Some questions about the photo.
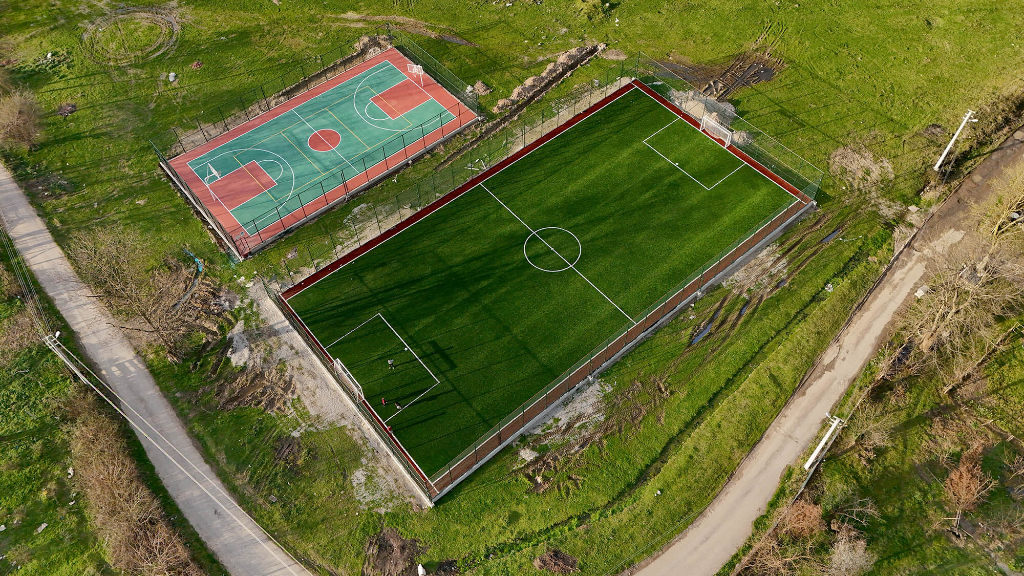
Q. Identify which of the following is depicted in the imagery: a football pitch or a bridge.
football pitch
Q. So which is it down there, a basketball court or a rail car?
basketball court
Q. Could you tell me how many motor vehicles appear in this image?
0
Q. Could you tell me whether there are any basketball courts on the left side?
Yes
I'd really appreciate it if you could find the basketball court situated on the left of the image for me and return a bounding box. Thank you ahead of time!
[168,47,477,254]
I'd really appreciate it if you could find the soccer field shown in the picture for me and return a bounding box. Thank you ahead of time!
[274,80,813,499]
